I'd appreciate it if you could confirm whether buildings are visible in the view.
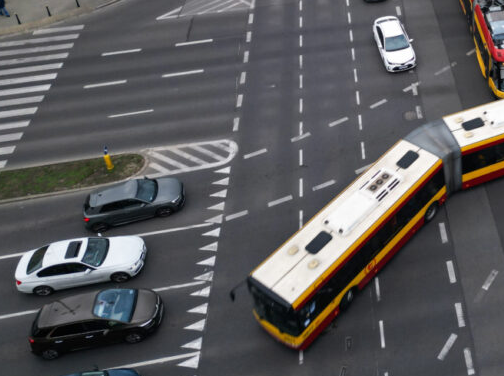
No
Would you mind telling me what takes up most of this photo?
paved ground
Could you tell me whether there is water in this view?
No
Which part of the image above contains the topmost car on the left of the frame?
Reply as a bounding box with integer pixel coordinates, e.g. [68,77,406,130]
[84,175,186,229]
